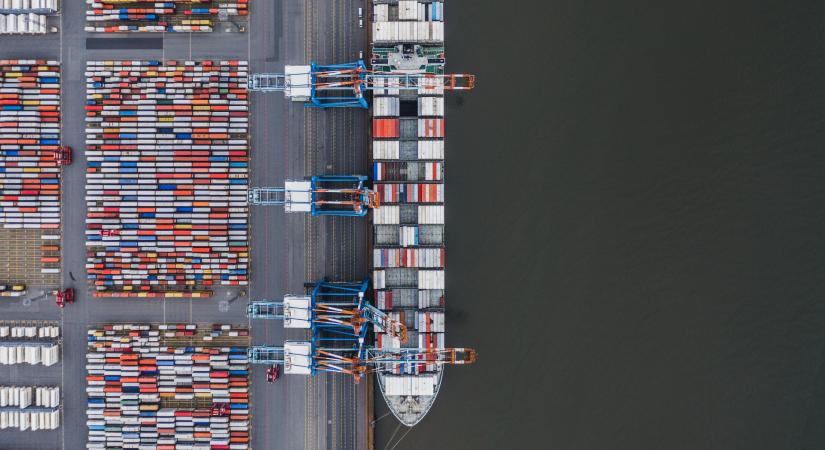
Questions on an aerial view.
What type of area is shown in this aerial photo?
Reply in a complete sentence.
The picture captures a port.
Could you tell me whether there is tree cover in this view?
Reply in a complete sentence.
No, the scene doesn't show any tree cover.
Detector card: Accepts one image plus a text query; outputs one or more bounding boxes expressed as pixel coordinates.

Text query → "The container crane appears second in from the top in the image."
[250,174,379,217]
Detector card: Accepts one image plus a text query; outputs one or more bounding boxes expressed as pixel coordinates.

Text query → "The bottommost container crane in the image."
[250,316,475,377]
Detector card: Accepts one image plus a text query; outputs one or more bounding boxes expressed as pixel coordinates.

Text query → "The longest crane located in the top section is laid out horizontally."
[250,62,475,111]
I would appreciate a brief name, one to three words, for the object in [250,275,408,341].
container crane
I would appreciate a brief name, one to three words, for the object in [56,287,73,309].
work vehicle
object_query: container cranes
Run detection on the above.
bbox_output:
[250,62,475,111]
[250,316,475,377]
[250,174,379,217]
[250,275,408,341]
